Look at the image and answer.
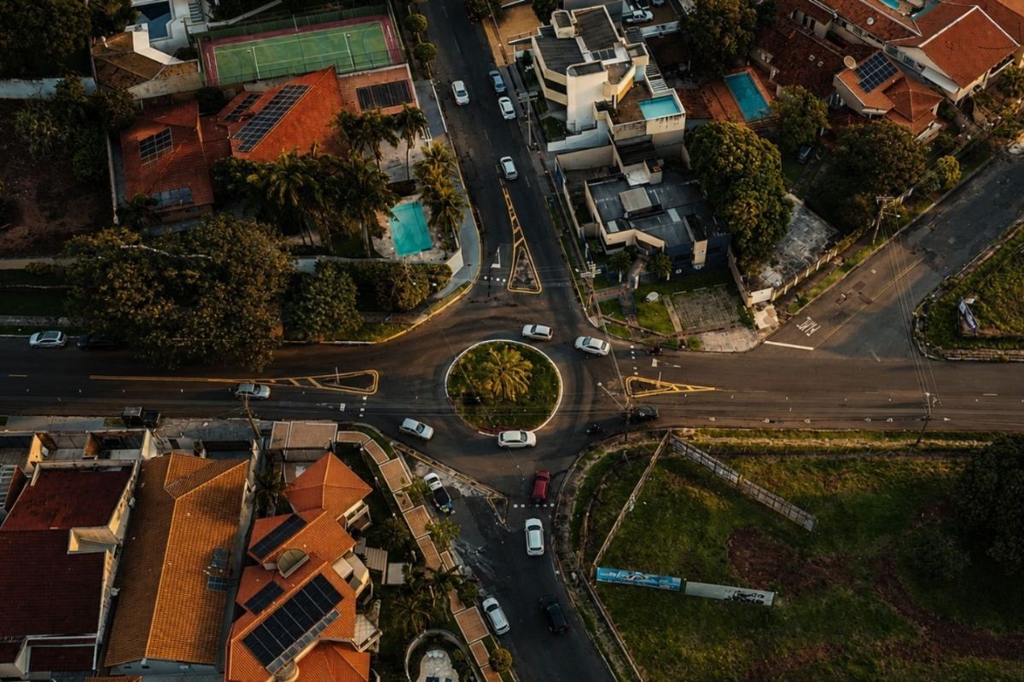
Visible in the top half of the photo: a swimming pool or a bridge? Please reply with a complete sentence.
Looking in the top half of the photo, you will find a swimming pool.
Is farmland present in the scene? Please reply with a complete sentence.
No, the picture contains no farmland.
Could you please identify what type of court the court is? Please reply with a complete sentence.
I'd identify the court as a tennis court.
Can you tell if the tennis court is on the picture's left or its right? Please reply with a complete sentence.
The tennis court appears in the left half of the scene.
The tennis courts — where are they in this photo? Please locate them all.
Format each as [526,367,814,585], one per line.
[202,8,404,88]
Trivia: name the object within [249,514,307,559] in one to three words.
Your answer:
solar array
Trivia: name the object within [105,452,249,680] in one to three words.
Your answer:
house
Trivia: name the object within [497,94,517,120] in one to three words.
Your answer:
car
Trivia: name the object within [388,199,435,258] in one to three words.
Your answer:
swimming pool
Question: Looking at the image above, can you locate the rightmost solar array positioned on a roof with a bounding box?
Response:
[855,52,898,92]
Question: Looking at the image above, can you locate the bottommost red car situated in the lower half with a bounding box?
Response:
[532,470,551,503]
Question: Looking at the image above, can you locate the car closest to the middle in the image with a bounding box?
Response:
[518,320,557,340]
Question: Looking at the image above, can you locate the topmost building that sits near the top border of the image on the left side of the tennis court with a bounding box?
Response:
[92,30,206,108]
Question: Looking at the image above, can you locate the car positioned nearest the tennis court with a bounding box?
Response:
[451,79,470,103]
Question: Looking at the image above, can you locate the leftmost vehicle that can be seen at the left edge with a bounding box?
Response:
[29,329,66,347]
